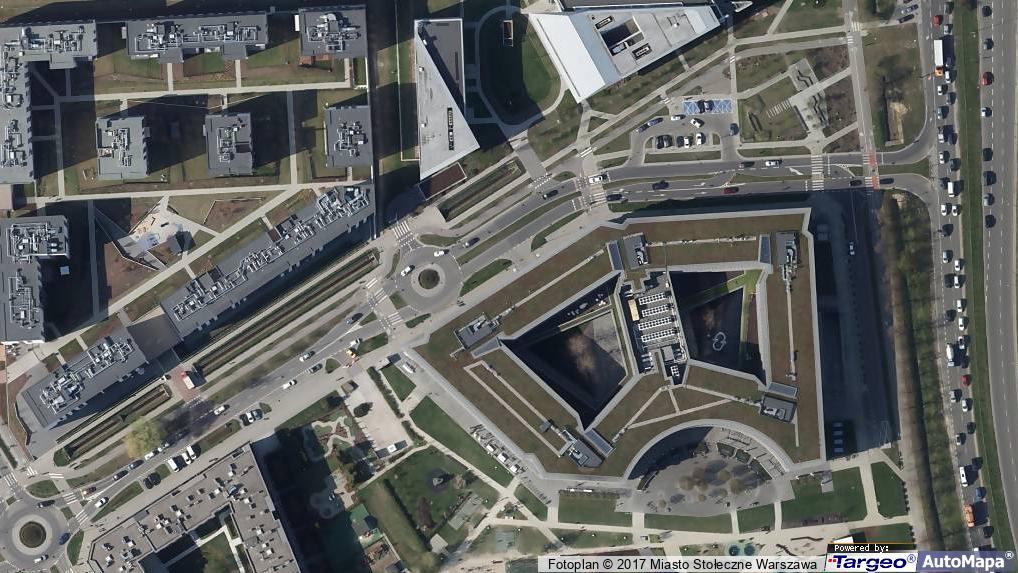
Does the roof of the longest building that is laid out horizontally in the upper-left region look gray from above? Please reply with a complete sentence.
Yes, the roof of the longest building that is laid out horizontally in the upper-left region appears gray.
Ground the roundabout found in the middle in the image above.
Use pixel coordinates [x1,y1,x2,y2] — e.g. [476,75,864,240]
[412,261,446,295]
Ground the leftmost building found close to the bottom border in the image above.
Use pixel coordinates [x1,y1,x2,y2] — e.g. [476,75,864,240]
[88,441,305,573]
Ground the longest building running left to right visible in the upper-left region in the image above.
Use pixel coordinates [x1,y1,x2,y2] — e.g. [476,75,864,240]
[121,10,270,63]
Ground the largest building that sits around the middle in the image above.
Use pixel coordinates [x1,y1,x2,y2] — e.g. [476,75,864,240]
[404,208,826,480]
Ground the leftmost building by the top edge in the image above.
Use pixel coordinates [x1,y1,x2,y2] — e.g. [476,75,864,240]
[0,19,101,185]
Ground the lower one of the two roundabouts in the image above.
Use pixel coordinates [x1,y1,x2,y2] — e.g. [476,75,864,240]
[13,515,53,555]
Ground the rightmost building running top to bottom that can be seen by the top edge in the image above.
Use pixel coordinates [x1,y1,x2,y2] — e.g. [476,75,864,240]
[415,18,480,180]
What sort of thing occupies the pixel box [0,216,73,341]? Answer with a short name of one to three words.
building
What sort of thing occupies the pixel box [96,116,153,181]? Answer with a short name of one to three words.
building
